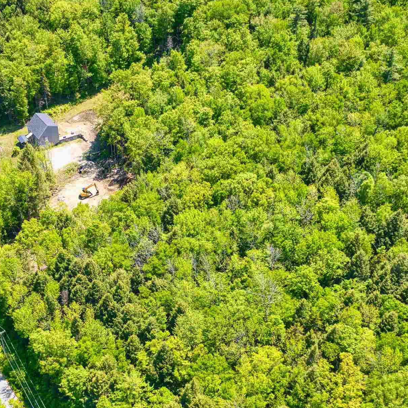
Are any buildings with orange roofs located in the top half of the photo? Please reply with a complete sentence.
No, in the top half of the photo there is no building with an orange roof.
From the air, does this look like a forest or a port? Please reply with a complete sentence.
It's a forest.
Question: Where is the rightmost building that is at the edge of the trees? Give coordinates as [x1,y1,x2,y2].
[25,112,60,150]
